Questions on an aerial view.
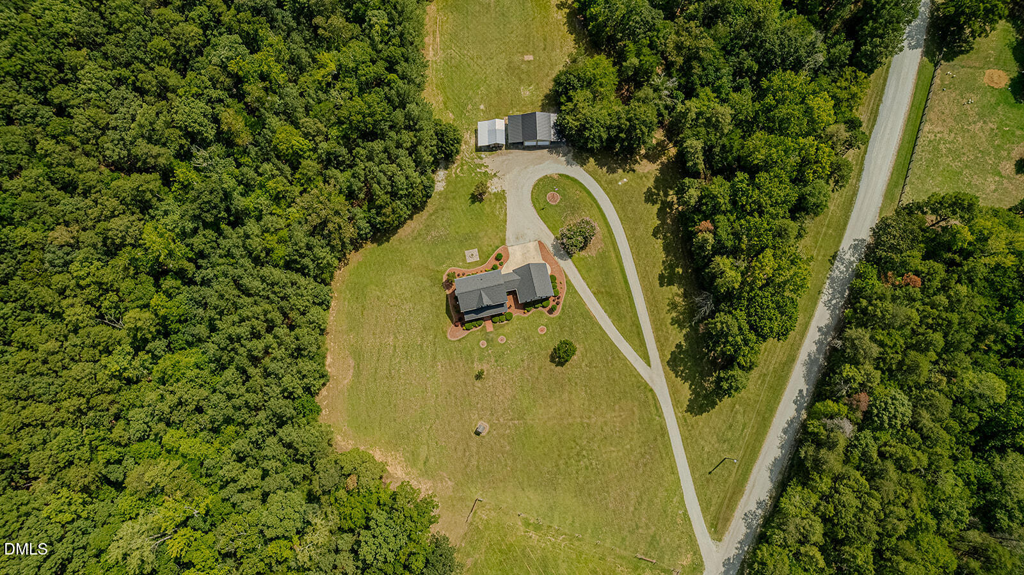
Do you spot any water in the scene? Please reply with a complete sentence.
No, the picture contains no water.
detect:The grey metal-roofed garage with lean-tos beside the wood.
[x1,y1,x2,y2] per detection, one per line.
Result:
[508,111,557,148]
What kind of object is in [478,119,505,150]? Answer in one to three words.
shed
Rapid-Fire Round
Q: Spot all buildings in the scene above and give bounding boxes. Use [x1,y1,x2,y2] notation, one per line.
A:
[508,111,557,148]
[453,263,554,322]
[478,119,505,150]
